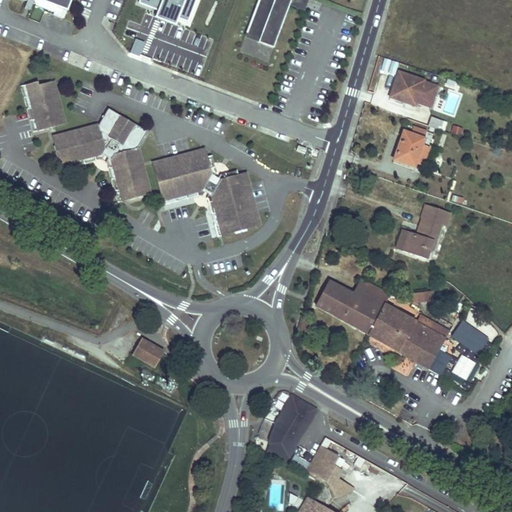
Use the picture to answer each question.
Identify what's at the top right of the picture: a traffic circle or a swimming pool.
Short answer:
swimming pool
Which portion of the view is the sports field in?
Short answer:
bottom left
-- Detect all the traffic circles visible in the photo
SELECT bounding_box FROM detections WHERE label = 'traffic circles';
[192,296,290,394]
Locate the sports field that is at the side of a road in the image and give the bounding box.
[0,318,190,512]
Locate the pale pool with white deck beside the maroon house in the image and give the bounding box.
[433,88,463,118]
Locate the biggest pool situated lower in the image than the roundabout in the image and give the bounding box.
[268,480,286,511]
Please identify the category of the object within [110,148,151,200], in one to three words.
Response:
building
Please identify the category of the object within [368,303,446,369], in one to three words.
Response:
house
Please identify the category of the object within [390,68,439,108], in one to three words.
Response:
house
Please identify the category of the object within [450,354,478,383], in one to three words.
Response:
building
